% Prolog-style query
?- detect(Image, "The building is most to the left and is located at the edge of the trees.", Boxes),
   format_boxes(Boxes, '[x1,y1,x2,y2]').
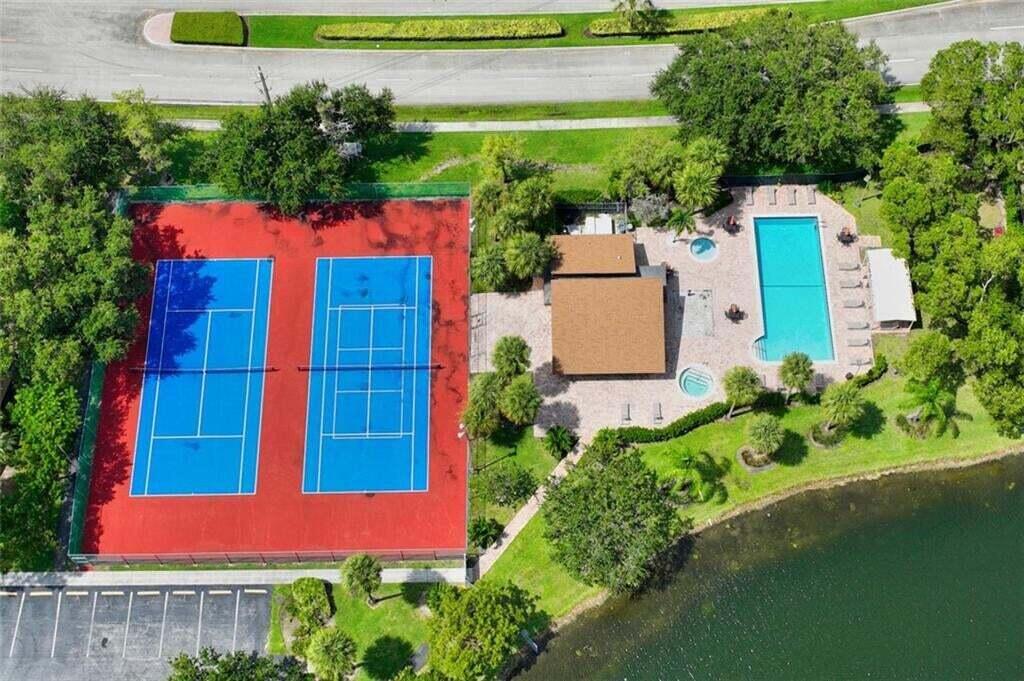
[541,234,666,380]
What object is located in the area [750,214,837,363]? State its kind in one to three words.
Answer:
swimming pool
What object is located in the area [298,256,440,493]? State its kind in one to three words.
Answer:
tennis court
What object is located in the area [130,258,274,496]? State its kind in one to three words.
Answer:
tennis court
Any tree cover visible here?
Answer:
Yes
